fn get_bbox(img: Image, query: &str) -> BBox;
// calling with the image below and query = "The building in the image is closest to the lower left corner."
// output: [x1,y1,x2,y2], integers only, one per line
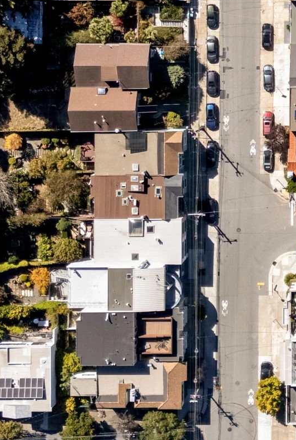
[0,337,60,421]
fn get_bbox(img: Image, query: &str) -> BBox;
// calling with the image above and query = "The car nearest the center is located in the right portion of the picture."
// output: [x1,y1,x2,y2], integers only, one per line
[207,199,219,226]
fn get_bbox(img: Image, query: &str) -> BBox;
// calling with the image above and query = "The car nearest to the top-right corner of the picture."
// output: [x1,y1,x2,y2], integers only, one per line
[262,23,274,50]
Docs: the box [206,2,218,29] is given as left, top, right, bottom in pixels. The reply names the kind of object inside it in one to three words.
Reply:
vehicle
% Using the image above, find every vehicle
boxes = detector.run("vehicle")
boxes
[207,199,219,226]
[206,2,218,29]
[260,108,274,139]
[260,358,272,384]
[206,102,217,129]
[263,64,275,91]
[262,23,274,50]
[262,147,274,172]
[207,70,219,97]
[206,142,218,169]
[206,36,218,62]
